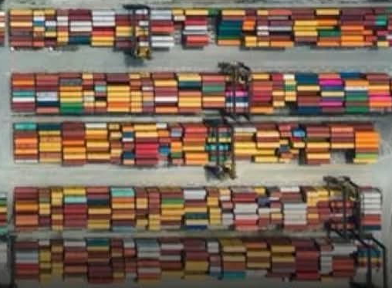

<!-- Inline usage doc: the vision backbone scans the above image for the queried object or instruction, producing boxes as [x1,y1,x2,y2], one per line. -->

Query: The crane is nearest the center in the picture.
[191,113,231,185]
